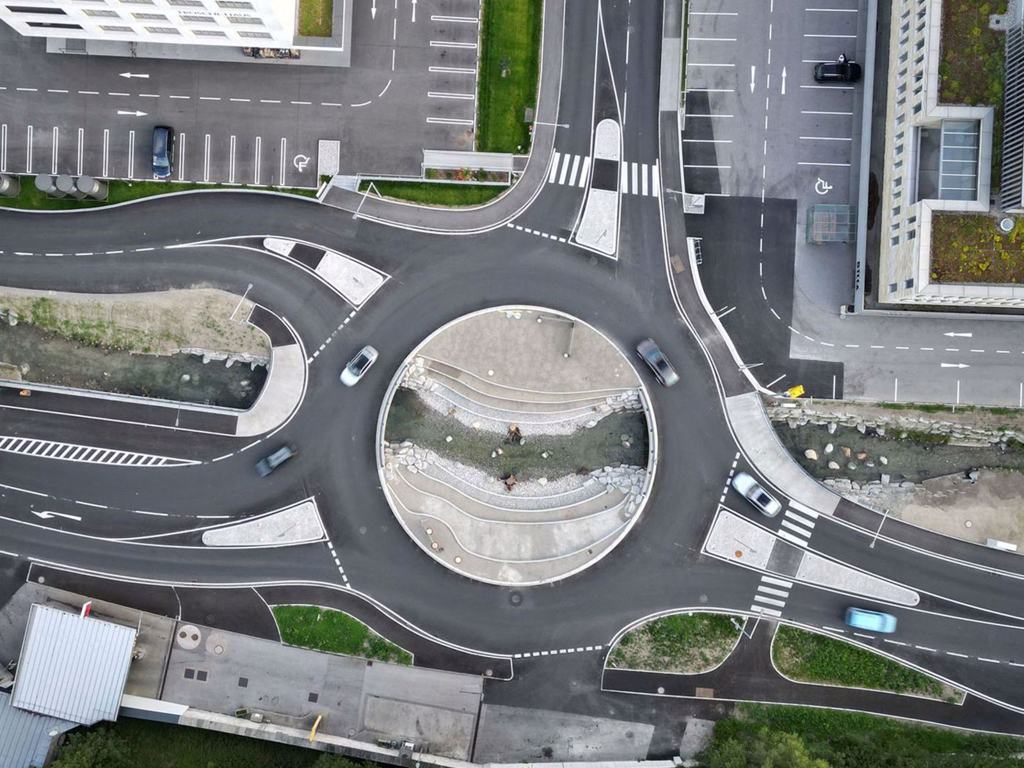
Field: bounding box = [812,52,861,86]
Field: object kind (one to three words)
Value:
car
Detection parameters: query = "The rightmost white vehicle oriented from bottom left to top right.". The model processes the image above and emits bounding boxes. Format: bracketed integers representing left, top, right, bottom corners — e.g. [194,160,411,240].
[340,344,379,389]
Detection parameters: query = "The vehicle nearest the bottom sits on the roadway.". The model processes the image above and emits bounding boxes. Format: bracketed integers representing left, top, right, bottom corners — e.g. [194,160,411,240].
[846,608,896,634]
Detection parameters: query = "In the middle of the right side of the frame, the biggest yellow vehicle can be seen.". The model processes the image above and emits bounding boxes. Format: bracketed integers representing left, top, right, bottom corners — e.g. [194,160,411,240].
[781,381,809,402]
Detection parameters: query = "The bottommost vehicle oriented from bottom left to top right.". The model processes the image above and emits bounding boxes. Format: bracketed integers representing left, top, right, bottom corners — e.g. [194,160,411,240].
[254,444,298,479]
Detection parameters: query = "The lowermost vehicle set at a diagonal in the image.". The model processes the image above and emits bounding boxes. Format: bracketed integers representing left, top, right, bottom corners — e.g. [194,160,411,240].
[734,473,781,517]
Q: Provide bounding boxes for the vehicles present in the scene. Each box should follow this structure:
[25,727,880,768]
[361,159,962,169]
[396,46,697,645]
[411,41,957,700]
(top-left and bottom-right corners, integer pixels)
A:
[846,608,896,634]
[340,344,379,389]
[254,444,298,479]
[734,473,781,517]
[812,52,861,86]
[781,381,809,402]
[147,127,173,177]
[638,340,678,386]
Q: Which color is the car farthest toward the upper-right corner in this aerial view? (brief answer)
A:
black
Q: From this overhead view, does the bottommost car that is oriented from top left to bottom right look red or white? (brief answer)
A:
white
